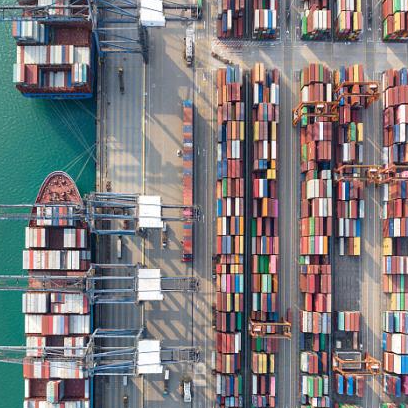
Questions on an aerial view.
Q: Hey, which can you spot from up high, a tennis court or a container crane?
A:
container crane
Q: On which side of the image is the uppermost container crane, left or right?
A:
left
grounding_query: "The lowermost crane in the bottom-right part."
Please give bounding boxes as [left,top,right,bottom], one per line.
[327,351,379,377]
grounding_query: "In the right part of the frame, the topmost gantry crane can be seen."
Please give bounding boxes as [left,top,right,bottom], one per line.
[329,83,381,111]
